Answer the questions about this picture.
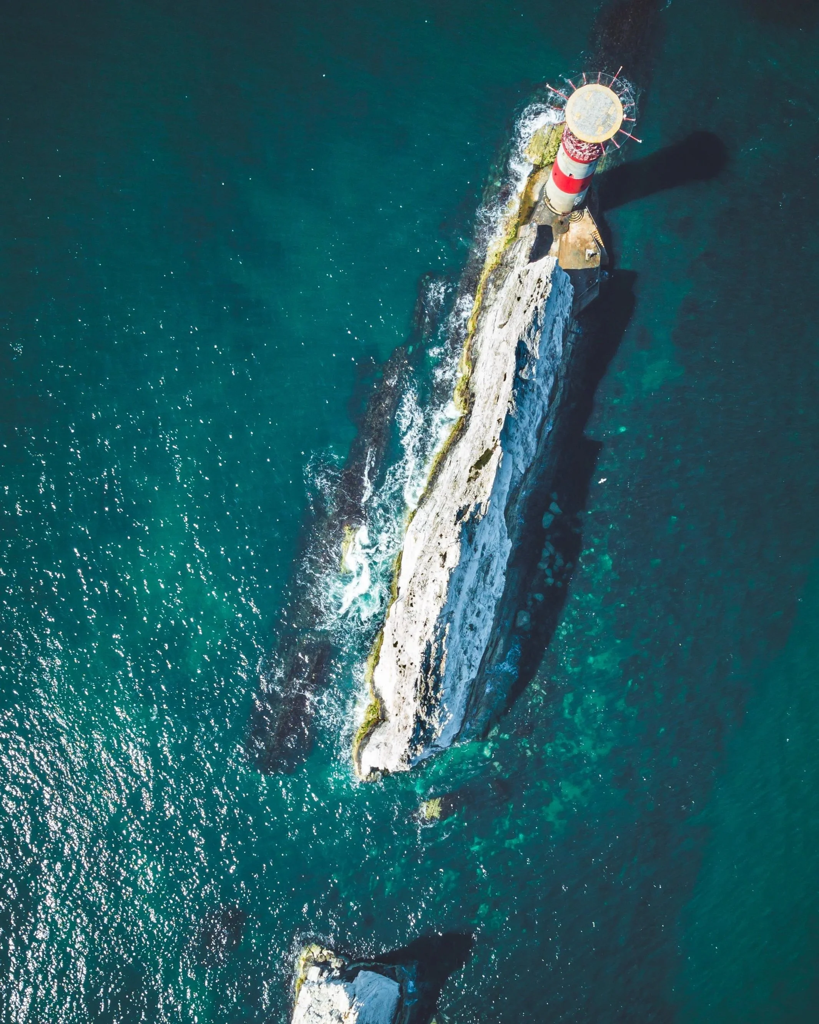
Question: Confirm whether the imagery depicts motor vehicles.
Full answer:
No, no motor vehicle is visible in the view.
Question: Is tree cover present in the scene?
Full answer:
No, tree cover can't be seen anywhere here.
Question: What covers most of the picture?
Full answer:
The scene is dominated by water.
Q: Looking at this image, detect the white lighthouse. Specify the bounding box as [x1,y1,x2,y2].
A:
[541,68,641,216]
